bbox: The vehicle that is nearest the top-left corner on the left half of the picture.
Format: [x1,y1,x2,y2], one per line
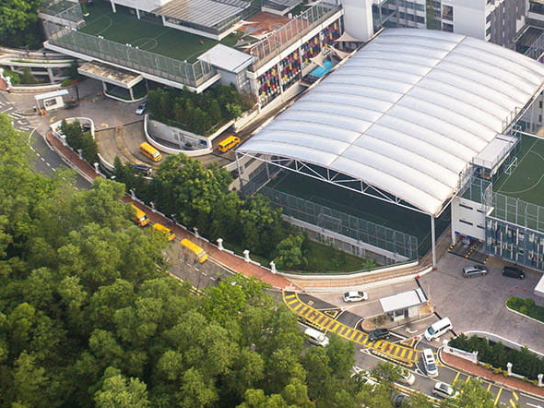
[135,101,148,114]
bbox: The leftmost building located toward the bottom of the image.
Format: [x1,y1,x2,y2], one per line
[369,289,431,325]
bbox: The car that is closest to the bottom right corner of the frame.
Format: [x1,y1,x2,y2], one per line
[430,381,459,399]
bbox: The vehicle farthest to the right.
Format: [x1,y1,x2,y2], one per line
[500,262,527,280]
